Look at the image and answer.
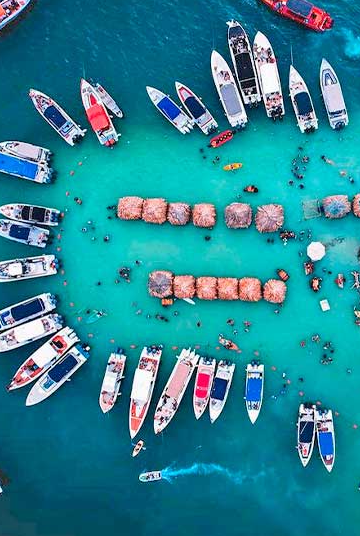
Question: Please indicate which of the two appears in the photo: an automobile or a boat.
boat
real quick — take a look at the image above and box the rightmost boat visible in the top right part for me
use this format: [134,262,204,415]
[320,58,347,130]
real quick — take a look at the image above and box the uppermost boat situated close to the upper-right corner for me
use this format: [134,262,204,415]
[260,0,333,32]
